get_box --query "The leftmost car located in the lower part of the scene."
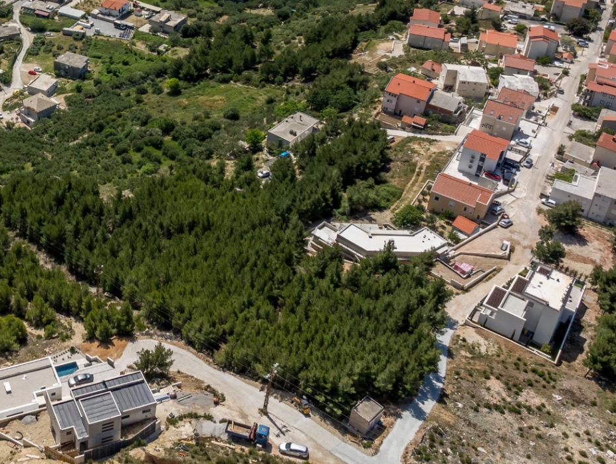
[70,369,92,383]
